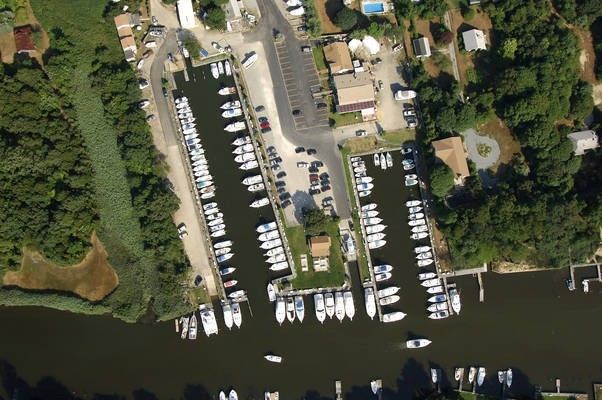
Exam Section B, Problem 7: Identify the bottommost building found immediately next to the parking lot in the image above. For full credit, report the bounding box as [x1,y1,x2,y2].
[334,75,375,114]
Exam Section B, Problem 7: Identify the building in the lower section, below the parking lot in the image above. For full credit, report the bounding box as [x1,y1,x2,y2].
[310,235,329,256]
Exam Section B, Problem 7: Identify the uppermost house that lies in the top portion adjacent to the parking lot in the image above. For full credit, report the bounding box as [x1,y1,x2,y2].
[323,41,353,75]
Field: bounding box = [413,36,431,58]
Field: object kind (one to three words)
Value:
house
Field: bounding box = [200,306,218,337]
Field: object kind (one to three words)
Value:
boat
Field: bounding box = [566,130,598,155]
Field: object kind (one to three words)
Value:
house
